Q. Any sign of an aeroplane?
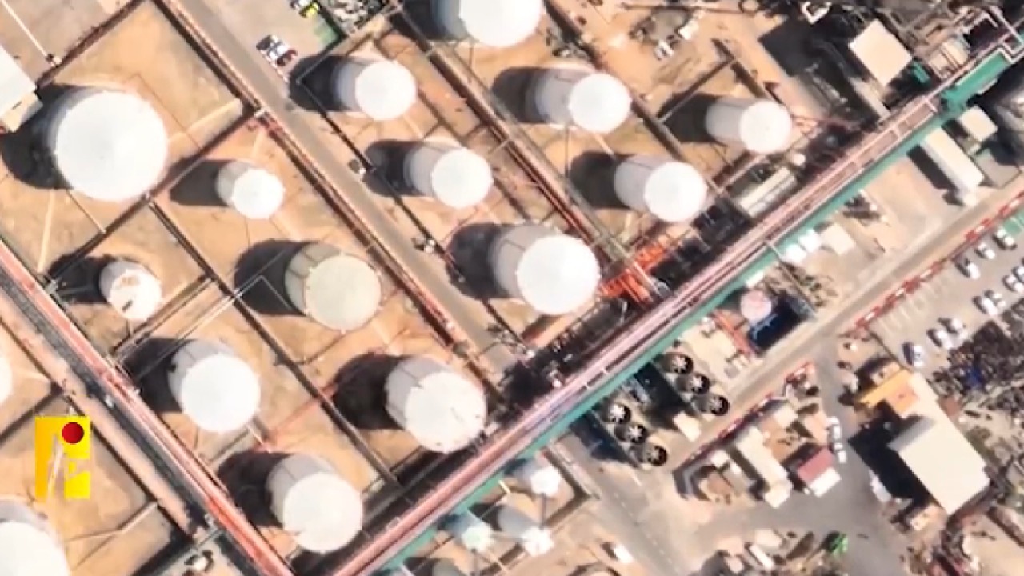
No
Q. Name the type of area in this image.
industrial area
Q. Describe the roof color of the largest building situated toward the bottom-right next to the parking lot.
white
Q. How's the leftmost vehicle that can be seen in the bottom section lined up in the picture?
diagonally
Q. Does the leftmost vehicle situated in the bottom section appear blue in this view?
No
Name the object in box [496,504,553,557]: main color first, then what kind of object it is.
white storage tank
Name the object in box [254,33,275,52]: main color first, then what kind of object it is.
gray car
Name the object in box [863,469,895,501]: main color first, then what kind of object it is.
white truck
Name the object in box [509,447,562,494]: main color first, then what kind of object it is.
white storage tank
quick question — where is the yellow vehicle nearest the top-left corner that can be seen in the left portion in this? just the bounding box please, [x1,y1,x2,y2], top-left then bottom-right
[299,1,320,20]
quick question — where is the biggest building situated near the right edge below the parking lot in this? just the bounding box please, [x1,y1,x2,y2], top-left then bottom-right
[872,418,991,515]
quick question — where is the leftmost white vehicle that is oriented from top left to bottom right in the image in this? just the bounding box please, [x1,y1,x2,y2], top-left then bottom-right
[611,539,634,566]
